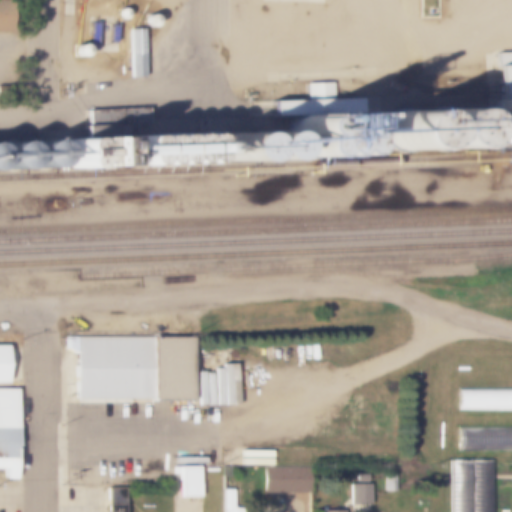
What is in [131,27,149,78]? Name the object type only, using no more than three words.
shed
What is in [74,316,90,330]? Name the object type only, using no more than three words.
work vehicle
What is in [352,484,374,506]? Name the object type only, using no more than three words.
house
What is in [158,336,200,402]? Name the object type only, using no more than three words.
building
